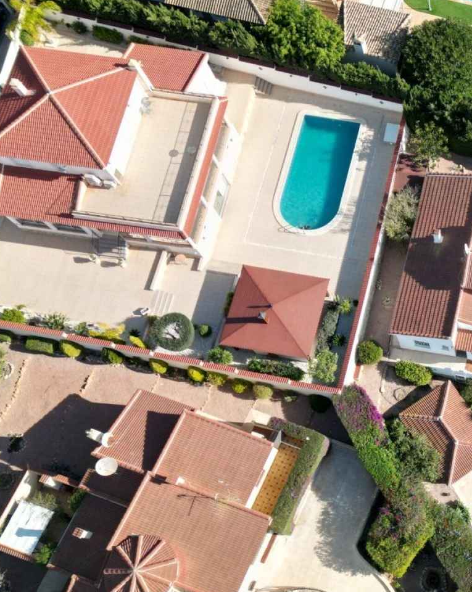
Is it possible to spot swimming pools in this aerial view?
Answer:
Yes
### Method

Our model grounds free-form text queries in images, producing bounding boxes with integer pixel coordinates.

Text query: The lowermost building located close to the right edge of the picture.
[397,378,472,486]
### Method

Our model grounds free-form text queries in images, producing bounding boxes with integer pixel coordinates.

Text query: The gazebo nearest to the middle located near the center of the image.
[220,264,334,361]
